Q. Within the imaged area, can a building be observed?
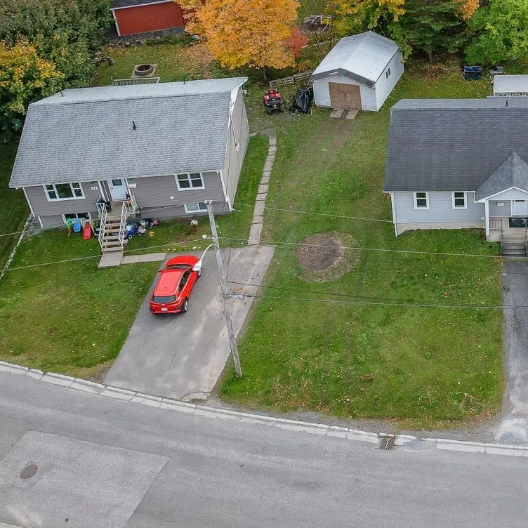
Yes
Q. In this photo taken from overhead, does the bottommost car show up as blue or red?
red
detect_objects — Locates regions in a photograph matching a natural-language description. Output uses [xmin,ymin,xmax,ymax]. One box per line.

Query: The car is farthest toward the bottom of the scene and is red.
[143,255,203,321]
